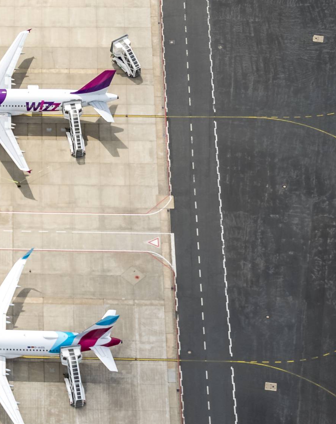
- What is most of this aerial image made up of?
paved ground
